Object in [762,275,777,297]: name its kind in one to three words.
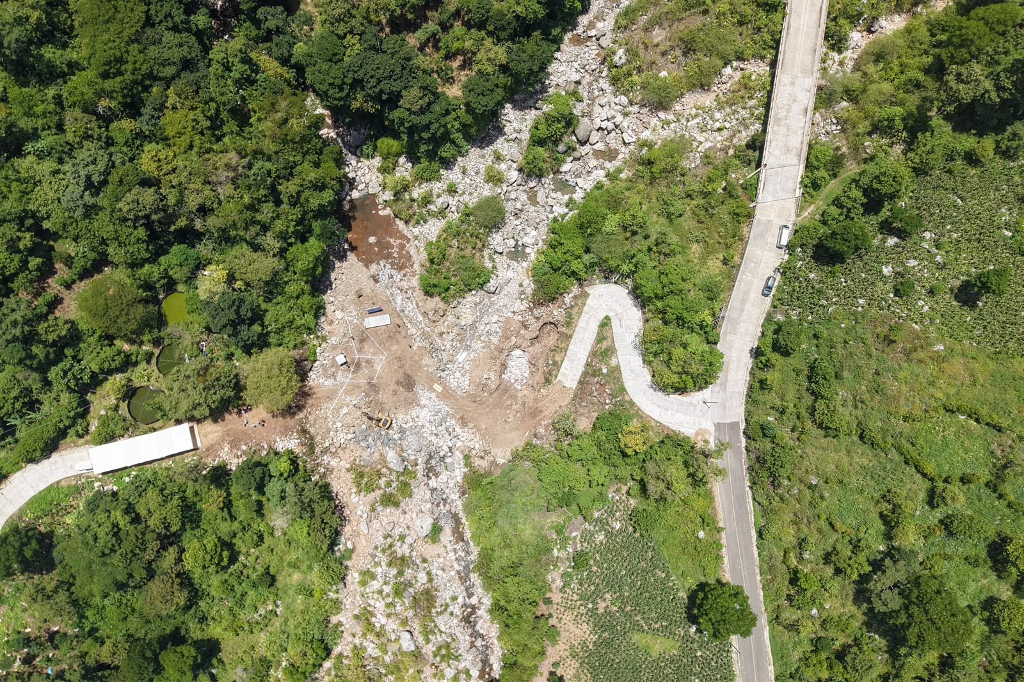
car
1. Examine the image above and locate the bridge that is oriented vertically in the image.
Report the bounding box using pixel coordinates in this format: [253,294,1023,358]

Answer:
[757,0,828,177]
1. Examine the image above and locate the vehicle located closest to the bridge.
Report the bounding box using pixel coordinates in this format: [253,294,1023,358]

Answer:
[775,225,791,250]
